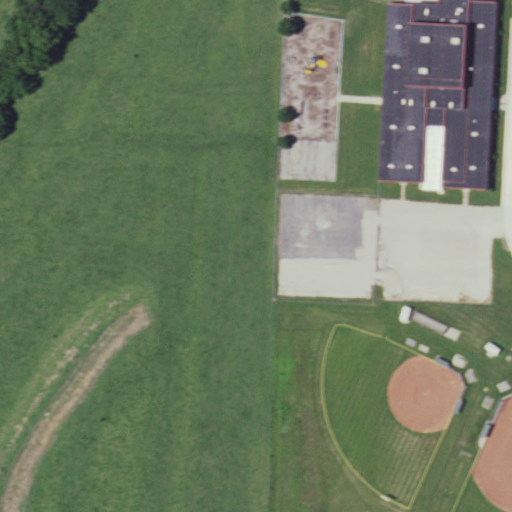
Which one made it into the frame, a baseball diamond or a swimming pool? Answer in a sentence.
This aerial view contains a baseball diamond.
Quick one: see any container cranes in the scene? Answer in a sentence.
No, this view has no container crane in it.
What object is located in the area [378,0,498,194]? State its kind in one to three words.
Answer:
building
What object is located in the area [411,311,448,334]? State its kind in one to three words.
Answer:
shed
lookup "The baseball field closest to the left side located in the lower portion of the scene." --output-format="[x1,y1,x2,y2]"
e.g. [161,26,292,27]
[320,322,466,510]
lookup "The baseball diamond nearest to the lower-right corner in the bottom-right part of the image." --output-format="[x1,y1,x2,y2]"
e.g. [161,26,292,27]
[452,394,512,512]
